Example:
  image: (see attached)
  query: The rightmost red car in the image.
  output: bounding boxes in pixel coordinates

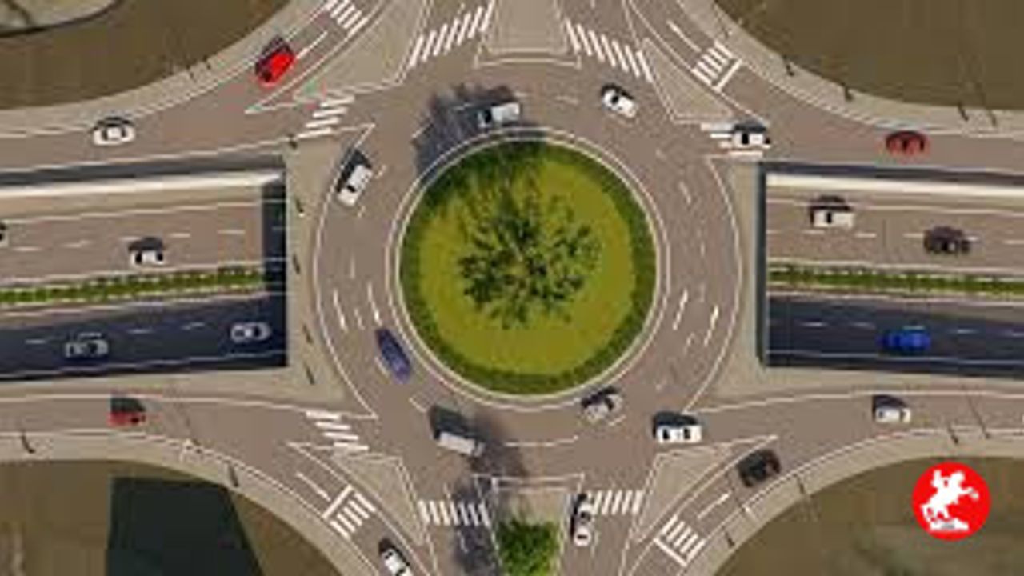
[885,135,926,153]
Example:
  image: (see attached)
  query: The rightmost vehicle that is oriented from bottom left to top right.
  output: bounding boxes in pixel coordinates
[738,451,780,486]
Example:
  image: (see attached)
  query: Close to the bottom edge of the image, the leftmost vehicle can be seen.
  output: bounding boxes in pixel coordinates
[379,540,414,576]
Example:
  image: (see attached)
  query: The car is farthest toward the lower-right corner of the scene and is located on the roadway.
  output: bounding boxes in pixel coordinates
[871,404,909,422]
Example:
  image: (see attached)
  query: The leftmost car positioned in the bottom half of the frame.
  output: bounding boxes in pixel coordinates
[66,340,108,356]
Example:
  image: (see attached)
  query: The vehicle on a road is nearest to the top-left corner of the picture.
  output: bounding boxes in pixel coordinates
[94,123,134,141]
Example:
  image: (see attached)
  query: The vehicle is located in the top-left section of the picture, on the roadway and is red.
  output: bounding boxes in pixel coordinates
[259,47,294,83]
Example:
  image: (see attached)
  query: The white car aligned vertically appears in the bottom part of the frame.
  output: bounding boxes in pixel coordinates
[575,499,593,545]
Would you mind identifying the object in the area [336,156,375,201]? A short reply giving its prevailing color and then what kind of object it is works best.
white car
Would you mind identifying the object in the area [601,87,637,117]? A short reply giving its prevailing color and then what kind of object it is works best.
white car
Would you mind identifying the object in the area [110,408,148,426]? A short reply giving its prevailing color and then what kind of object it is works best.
red car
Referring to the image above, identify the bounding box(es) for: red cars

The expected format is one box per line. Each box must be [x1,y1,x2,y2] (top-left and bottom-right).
[885,135,926,153]
[259,47,294,83]
[110,408,148,426]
